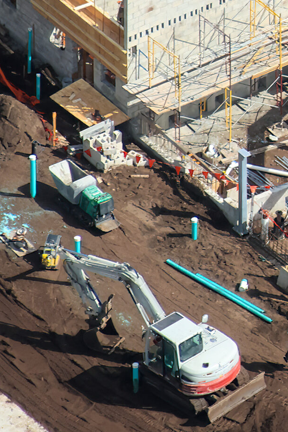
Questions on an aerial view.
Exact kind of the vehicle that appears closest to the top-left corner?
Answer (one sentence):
In the photo, the vehicle that appears closest to the top-left corner shows up as a truck.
